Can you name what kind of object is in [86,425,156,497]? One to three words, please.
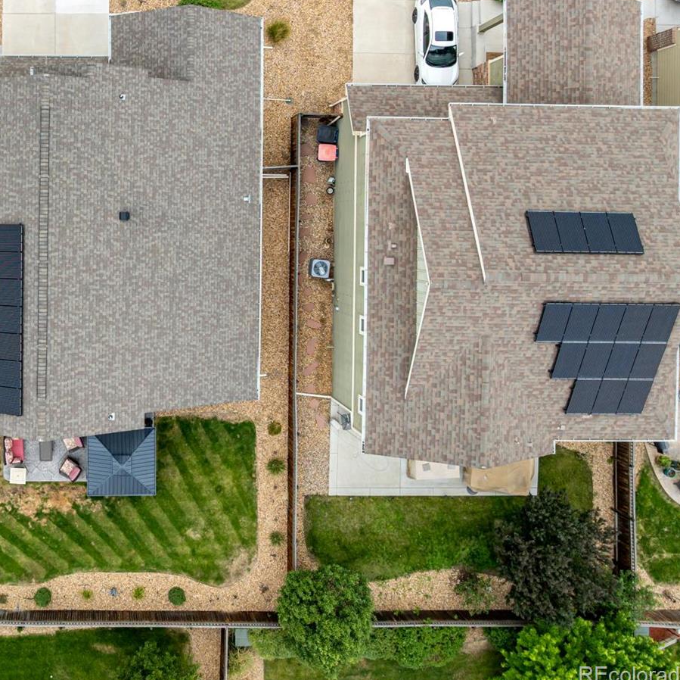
gazebo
